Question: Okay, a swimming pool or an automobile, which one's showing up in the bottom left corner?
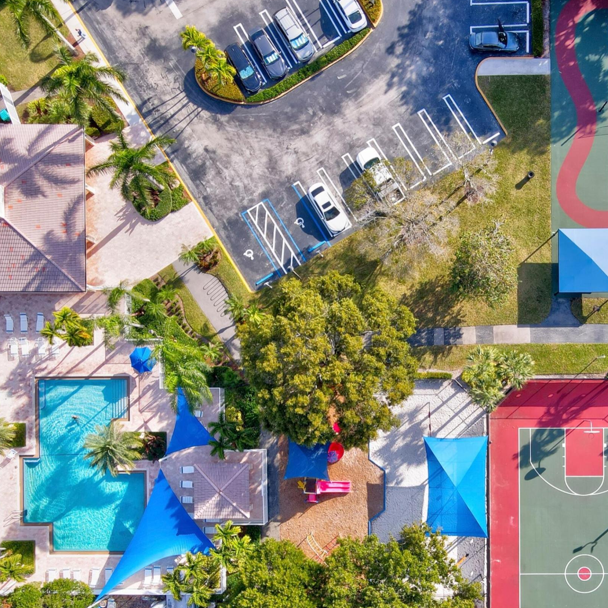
swimming pool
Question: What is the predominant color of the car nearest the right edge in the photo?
blue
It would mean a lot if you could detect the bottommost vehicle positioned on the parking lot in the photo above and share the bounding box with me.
[306,181,348,236]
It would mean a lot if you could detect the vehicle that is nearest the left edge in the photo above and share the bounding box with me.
[224,42,265,96]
